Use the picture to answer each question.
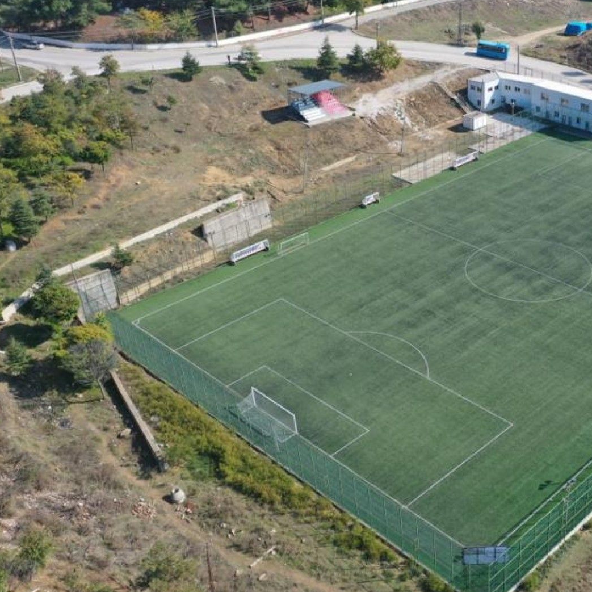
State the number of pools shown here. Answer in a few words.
0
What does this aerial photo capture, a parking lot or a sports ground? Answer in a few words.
sports ground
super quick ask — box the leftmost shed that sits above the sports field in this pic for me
[463,110,486,129]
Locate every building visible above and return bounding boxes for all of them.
[463,110,486,129]
[467,66,592,134]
